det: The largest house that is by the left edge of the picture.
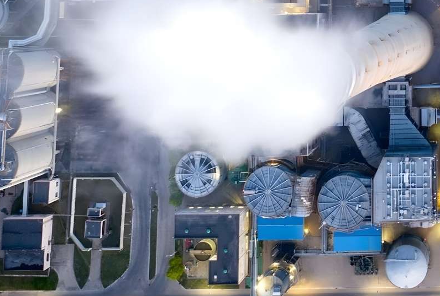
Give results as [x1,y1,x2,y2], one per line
[1,213,56,270]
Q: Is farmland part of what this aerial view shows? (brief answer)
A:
No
